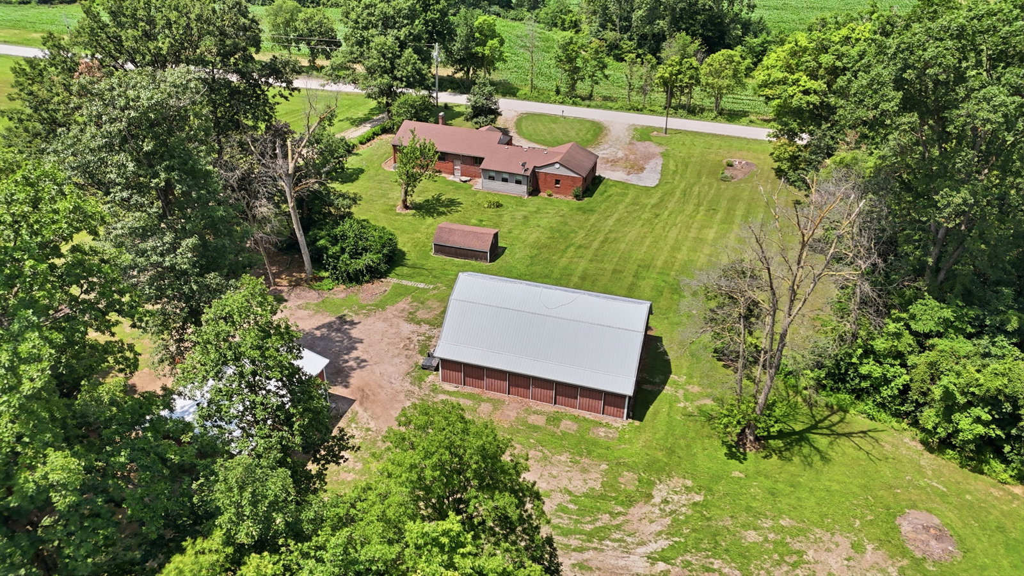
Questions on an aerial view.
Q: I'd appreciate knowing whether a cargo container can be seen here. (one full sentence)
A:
No, there is no cargo container in the image.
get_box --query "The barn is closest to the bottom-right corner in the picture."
[431,267,655,419]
